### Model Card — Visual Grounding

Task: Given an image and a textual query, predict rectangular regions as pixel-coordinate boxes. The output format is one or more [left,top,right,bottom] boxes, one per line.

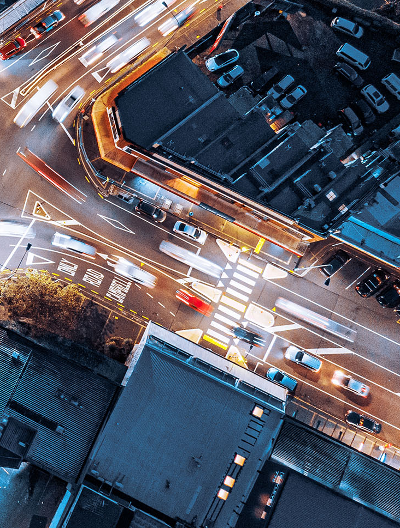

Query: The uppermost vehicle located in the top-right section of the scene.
[331,17,362,40]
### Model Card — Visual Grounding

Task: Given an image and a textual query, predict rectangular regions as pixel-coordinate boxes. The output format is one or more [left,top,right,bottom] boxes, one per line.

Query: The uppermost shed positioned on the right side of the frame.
[209,0,304,56]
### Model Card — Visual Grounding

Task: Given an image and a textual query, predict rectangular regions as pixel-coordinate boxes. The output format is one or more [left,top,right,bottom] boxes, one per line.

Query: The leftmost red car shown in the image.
[0,36,28,63]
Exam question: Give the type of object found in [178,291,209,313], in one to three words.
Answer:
car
